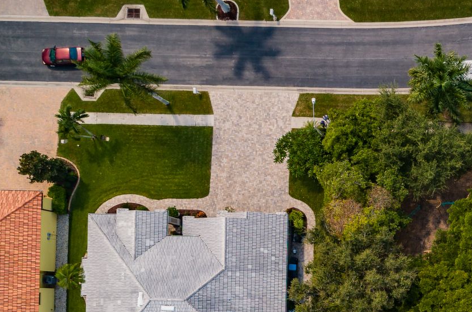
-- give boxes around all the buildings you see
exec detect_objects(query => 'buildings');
[85,206,292,312]
[0,188,58,312]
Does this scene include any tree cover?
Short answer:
Yes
